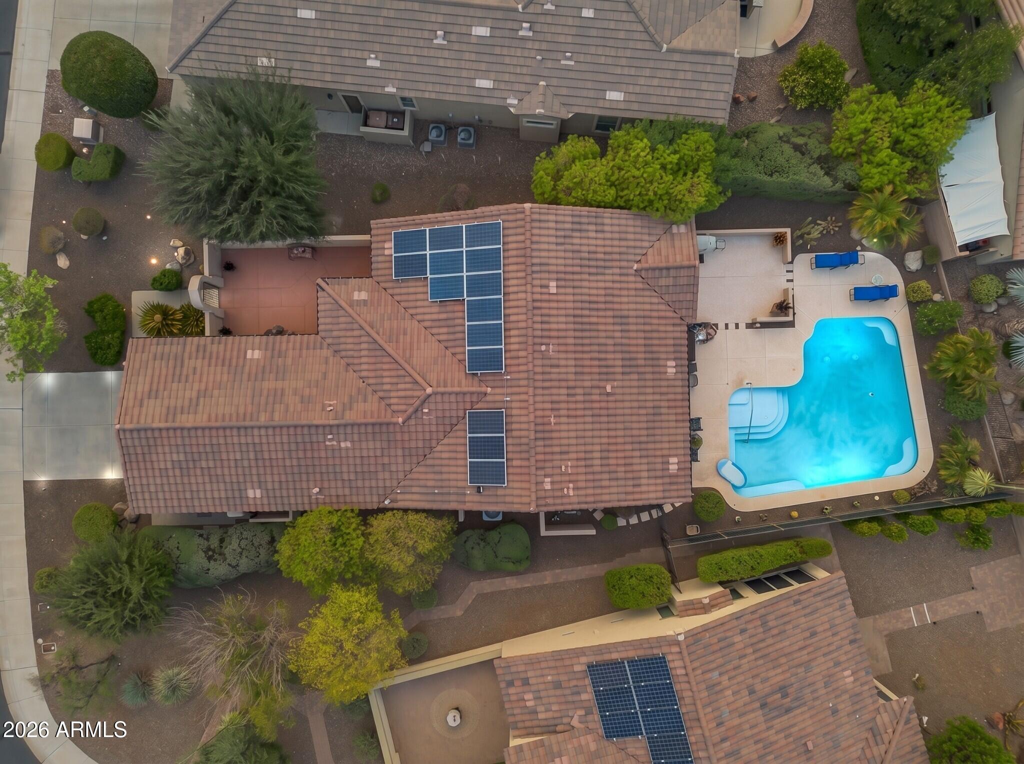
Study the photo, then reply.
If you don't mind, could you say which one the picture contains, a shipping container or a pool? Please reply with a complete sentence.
Of the two, only a pool appears.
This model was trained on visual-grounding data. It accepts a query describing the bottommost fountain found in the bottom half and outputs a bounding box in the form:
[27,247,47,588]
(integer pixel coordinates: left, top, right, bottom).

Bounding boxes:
[445,707,462,725]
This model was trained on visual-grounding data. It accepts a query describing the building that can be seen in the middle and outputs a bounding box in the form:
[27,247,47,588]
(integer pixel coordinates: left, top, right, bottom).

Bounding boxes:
[114,201,701,517]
